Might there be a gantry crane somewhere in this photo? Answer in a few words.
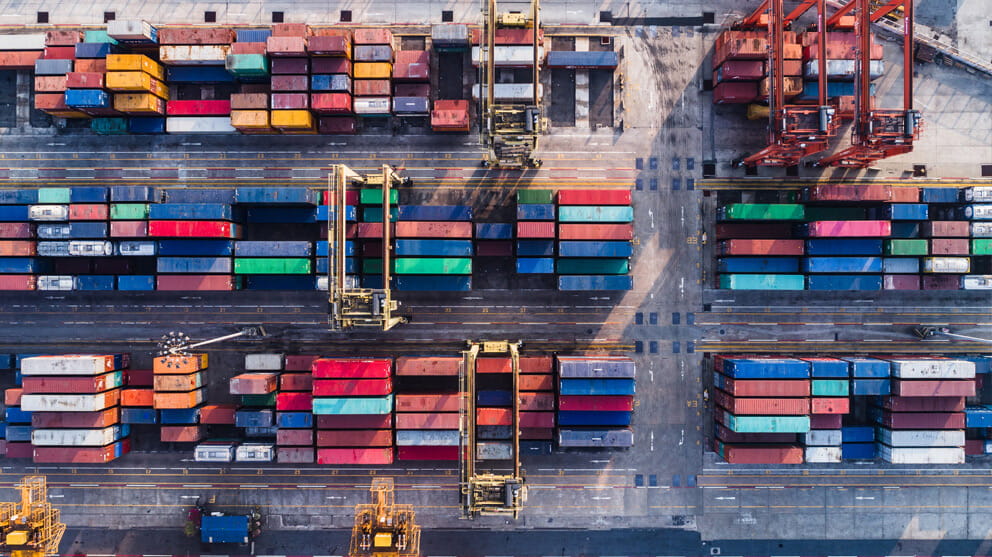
Yes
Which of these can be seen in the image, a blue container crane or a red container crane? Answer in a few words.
red container crane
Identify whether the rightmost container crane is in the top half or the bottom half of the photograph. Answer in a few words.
top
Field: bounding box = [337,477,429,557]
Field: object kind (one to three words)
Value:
container crane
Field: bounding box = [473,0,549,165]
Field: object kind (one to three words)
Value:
container crane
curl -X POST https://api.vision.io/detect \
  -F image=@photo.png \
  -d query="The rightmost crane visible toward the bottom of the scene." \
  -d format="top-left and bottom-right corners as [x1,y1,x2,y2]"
[452,342,531,530]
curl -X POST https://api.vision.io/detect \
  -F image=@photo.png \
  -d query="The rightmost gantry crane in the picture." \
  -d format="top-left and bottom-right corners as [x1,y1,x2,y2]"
[792,0,920,165]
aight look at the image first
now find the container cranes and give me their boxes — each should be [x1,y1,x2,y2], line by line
[720,0,833,165]
[337,477,429,557]
[324,158,420,339]
[452,342,531,530]
[0,476,80,557]
[473,0,549,165]
[792,0,920,165]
